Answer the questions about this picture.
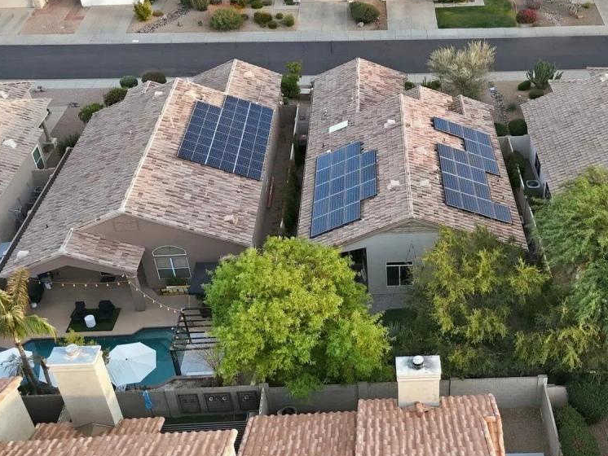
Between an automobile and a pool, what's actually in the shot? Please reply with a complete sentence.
Looking from above, you can make out a pool.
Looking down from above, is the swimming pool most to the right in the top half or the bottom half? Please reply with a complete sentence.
The swimming pool most to the right is in the bottom half of the image.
